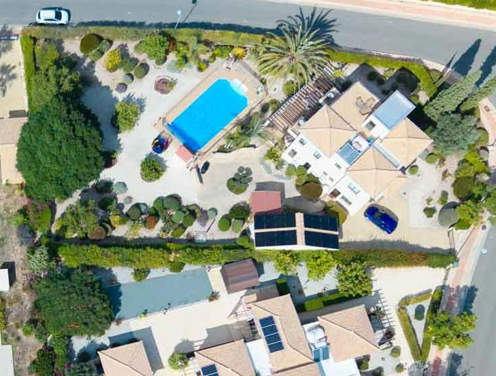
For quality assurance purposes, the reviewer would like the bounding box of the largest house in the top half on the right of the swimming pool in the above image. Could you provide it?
[277,82,434,212]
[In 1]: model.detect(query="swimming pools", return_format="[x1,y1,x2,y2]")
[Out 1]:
[164,78,249,154]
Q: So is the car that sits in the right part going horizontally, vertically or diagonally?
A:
diagonally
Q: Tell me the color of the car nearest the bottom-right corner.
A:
blue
